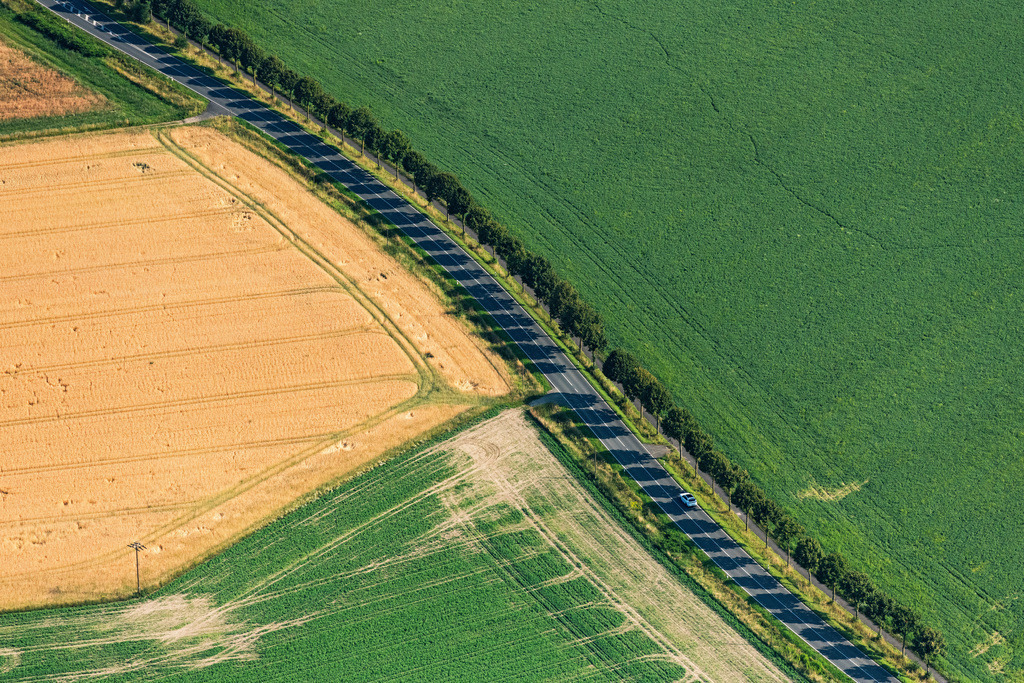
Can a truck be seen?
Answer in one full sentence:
No, I can't see a single truck in this photo.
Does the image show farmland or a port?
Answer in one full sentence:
It's farmland.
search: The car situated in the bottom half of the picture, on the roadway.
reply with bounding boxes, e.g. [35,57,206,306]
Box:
[680,493,697,508]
